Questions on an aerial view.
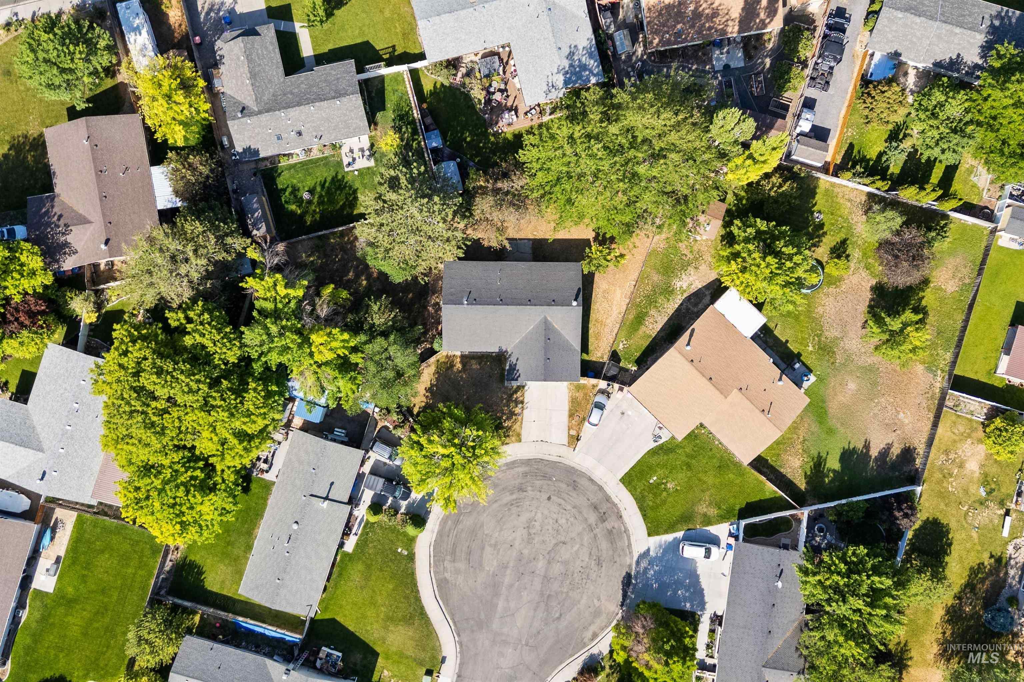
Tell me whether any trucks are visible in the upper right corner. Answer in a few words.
Yes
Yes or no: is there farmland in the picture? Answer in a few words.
No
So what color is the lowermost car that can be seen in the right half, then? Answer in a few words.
white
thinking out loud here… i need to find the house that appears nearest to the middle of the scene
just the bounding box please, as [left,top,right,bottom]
[443,261,582,382]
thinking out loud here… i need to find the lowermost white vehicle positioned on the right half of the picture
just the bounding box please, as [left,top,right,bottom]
[678,540,720,563]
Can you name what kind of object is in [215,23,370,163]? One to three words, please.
house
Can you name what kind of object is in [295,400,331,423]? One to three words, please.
shed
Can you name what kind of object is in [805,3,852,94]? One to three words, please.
truck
